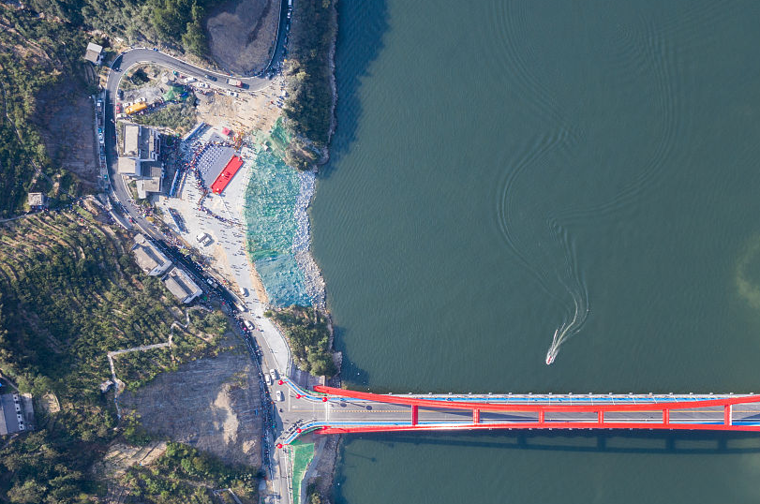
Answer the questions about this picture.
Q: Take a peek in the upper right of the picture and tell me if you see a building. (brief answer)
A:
No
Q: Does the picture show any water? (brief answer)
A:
Yes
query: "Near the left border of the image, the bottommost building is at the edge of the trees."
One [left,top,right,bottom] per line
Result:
[0,392,34,436]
